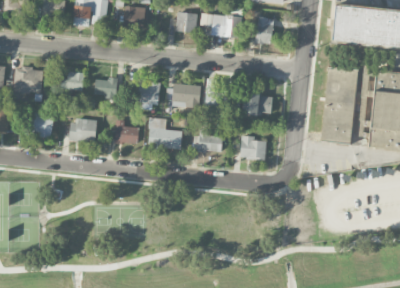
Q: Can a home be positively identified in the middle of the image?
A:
Yes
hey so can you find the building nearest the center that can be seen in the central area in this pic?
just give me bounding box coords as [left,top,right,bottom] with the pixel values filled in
[192,135,223,152]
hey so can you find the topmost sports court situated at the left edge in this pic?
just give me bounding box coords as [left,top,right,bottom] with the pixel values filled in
[9,182,39,216]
